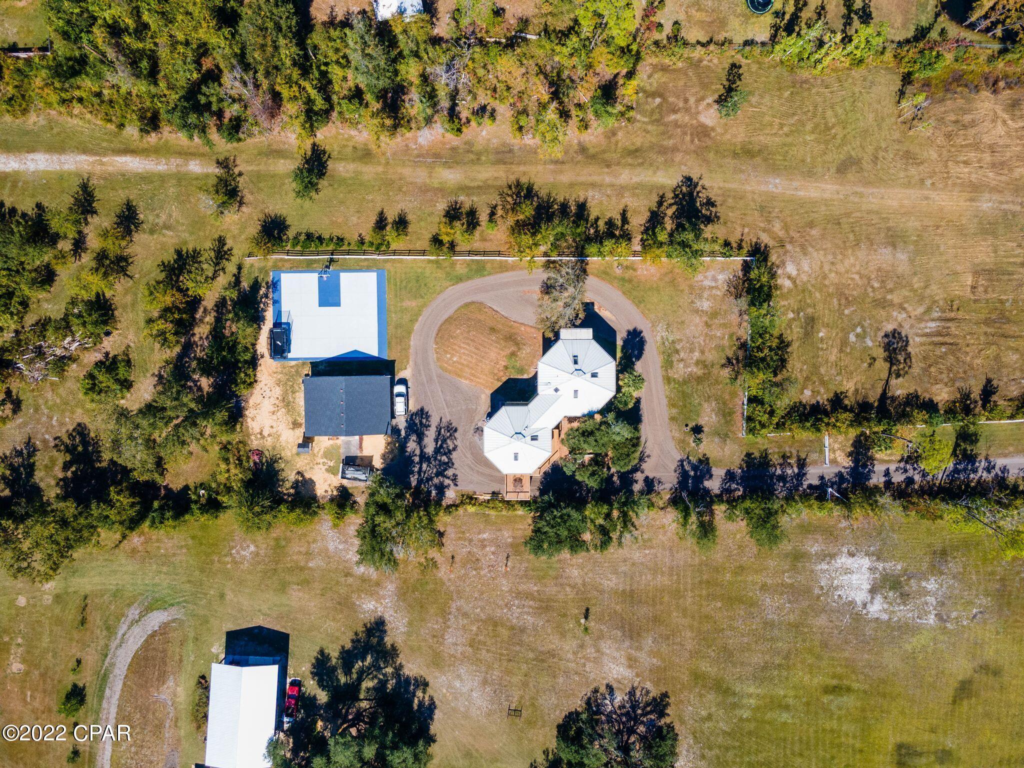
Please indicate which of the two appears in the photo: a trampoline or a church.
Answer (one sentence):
This aerial view contains a trampoline.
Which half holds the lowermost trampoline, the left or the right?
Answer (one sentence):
The lowermost trampoline appears in the left half of the scene.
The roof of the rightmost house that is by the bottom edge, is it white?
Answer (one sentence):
Yes, the roof of the rightmost house that is by the bottom edge is white.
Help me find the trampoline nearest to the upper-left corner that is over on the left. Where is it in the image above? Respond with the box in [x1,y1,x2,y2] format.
[265,327,290,359]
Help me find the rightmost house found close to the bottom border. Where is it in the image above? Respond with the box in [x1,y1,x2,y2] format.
[205,658,282,768]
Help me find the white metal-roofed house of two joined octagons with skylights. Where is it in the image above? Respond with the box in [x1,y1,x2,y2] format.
[483,328,616,475]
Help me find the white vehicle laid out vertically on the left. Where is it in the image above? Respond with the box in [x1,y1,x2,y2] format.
[394,385,408,417]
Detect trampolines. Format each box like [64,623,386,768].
[265,327,290,359]
[745,0,776,15]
